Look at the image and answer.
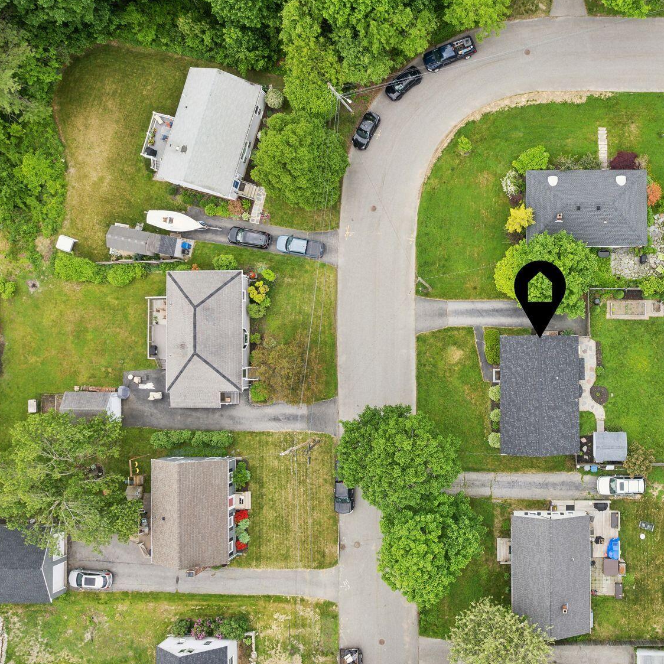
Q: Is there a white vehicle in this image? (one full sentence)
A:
Yes, the picture does show a white vehicle.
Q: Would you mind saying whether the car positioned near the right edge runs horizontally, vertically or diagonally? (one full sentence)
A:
The car positioned near the right edge is oriented horizontally.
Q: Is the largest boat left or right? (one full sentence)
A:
The largest boat appears in the left half of the scene.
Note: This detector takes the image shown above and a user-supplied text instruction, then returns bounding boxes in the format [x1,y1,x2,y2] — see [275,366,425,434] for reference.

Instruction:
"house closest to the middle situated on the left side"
[165,269,261,408]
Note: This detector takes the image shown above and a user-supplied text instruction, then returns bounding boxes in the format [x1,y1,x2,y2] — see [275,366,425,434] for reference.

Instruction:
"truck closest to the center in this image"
[275,233,326,259]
